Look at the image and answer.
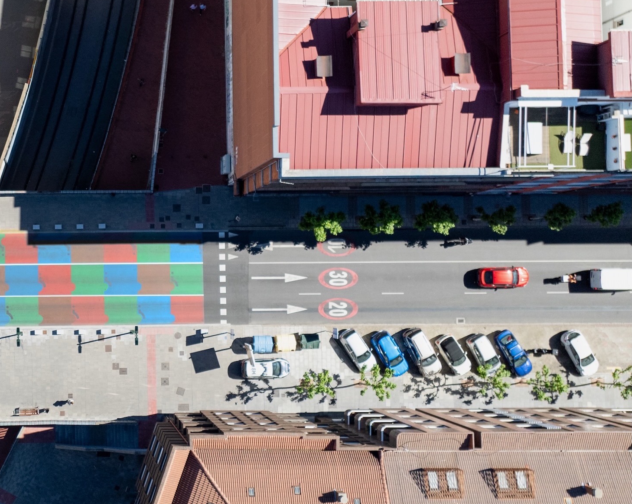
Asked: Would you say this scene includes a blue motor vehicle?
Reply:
Yes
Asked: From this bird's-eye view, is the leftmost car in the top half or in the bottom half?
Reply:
bottom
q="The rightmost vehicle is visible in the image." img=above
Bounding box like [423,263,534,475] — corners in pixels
[588,268,632,291]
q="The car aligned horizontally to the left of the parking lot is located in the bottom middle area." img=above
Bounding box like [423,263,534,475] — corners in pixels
[238,356,292,383]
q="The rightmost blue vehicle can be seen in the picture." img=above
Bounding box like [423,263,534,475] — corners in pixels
[492,326,532,378]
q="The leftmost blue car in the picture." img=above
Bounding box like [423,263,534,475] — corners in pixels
[368,328,409,378]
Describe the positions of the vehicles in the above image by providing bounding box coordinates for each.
[402,324,444,378]
[238,356,292,383]
[474,264,528,291]
[464,330,504,379]
[492,326,532,378]
[432,330,473,379]
[558,326,599,379]
[588,268,632,291]
[339,325,381,377]
[368,328,409,378]
[527,347,559,359]
[446,239,462,245]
